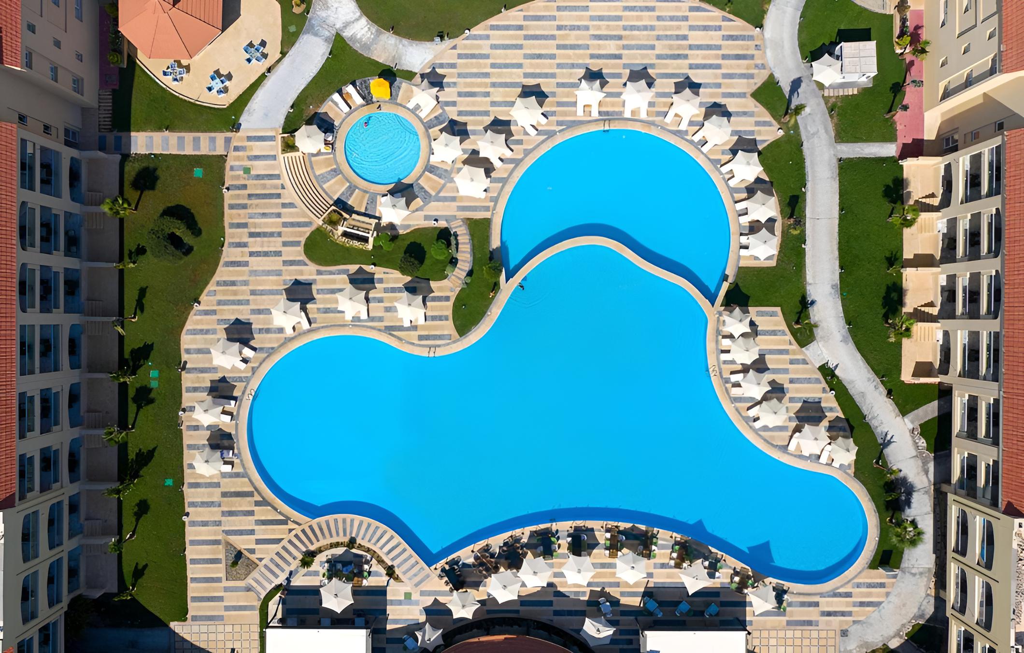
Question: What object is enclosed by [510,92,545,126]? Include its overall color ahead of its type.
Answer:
white umbrella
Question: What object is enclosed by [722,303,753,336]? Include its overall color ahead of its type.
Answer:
white umbrella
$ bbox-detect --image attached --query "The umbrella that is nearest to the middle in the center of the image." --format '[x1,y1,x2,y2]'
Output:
[393,286,426,324]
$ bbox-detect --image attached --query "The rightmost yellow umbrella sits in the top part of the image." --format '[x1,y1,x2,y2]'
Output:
[370,80,392,102]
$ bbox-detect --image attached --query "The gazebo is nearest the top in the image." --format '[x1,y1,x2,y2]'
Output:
[118,0,223,60]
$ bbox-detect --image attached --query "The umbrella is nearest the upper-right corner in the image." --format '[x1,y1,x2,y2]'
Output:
[810,51,841,86]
